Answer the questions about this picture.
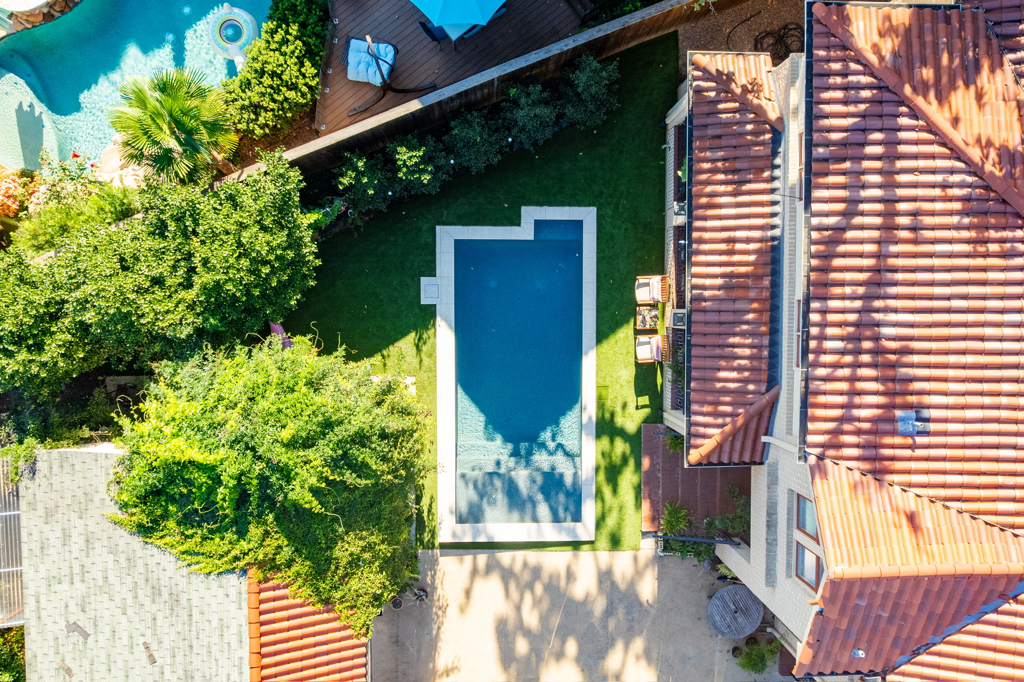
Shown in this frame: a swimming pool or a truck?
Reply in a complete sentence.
Looking from above, you can make out a swimming pool.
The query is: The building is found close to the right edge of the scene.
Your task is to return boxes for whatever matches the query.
[663,0,1024,682]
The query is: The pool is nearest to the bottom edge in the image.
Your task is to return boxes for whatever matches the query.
[421,207,595,542]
